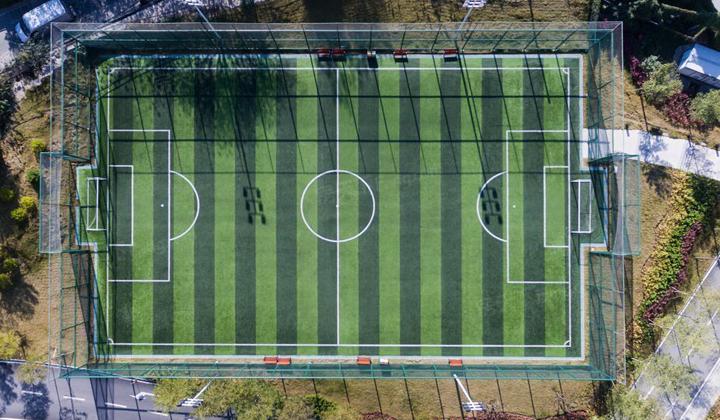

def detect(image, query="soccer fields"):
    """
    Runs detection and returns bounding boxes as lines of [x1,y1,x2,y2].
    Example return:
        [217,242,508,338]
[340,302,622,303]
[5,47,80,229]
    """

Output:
[77,53,605,359]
